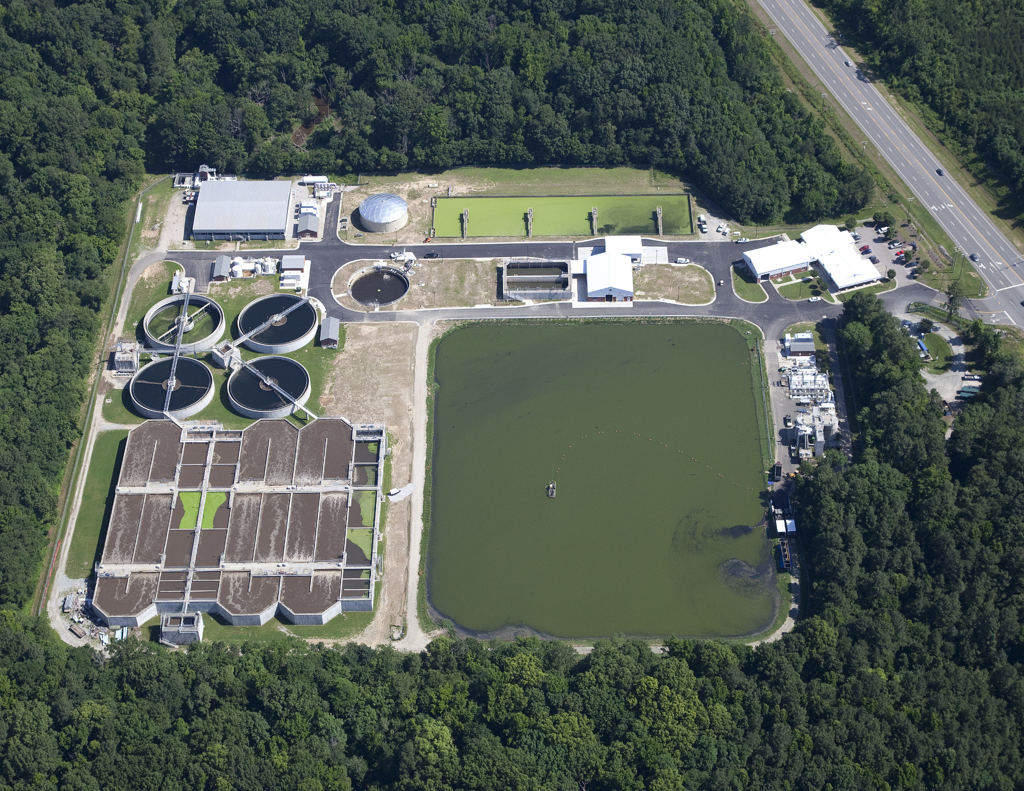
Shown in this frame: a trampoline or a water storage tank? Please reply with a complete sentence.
There is a water storage tank in the scene.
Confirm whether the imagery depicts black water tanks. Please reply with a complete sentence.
Yes, the photo shows a black water tank.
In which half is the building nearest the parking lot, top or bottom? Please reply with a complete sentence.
Seen from above, the building nearest the parking lot lies in the top half of the view.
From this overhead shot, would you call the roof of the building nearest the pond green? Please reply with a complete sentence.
No, from above the roof of the building nearest the pond looks white.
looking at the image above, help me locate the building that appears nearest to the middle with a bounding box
[586,251,634,302]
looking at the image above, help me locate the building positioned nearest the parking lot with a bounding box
[800,225,881,293]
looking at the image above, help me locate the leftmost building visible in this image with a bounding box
[109,338,142,377]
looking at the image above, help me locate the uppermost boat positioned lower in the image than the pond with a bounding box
[544,480,556,499]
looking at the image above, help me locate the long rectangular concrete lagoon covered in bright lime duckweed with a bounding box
[430,191,695,237]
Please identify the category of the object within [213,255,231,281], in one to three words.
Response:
building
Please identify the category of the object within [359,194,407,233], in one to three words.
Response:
storage tank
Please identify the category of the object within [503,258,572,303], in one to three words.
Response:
water tank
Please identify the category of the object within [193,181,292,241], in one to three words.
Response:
shed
